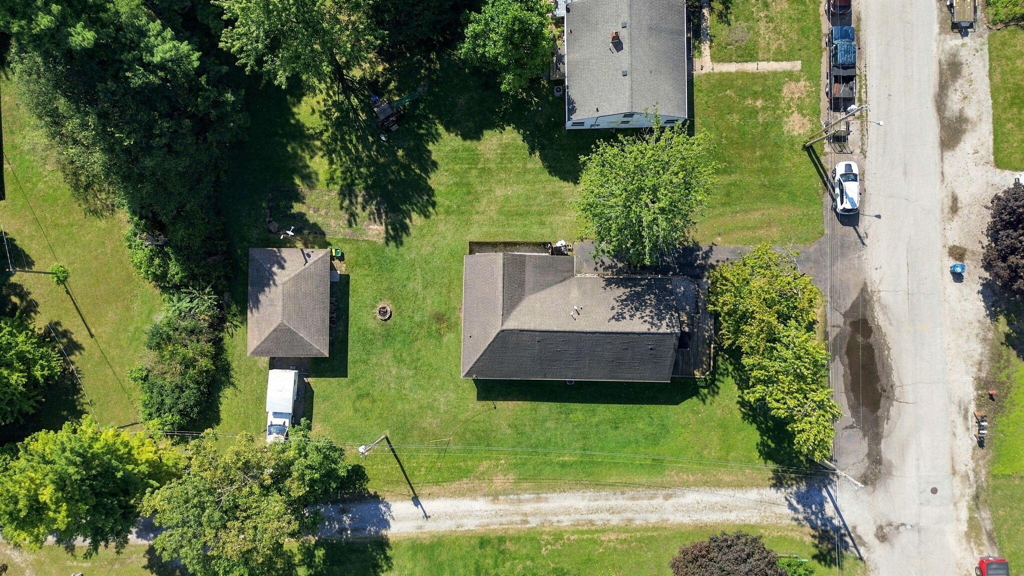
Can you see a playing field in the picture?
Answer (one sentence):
No, I find no playing field anywhere in the image.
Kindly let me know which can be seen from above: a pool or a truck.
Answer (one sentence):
I can see a truck in this picture.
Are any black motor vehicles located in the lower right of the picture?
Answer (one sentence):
No, looking in the lower right of the picture, there is no black motor vehicle.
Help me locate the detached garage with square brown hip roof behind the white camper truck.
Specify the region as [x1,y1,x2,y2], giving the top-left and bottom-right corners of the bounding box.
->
[247,247,333,358]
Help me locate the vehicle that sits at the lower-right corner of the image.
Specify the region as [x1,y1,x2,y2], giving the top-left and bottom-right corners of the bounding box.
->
[972,554,1009,576]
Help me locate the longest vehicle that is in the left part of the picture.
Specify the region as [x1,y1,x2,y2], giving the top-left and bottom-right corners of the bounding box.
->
[268,368,306,447]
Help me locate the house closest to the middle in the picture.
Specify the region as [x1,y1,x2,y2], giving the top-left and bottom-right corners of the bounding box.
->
[460,253,680,383]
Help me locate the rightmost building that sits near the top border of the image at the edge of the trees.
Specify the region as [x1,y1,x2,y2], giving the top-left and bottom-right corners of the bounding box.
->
[564,0,688,130]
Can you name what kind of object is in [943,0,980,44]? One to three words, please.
trailer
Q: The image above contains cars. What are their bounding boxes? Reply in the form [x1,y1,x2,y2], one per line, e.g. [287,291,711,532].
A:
[972,554,1009,576]
[823,0,850,19]
[829,162,861,218]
